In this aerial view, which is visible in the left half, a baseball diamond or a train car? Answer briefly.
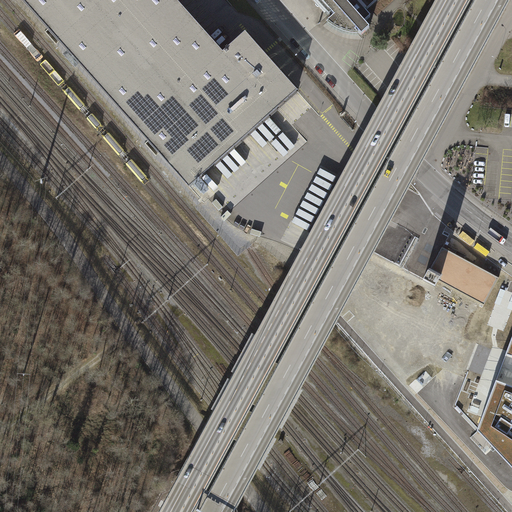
train car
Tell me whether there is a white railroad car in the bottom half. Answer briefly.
No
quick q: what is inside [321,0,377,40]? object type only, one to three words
building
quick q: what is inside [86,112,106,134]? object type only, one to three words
rail car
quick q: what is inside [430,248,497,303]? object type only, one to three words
building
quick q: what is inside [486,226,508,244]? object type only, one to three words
vehicle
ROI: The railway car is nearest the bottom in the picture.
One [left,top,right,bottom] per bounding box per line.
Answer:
[125,158,150,186]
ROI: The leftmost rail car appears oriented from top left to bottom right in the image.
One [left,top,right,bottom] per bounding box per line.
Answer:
[14,30,44,62]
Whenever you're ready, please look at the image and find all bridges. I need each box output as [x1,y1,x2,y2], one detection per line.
[160,0,472,512]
